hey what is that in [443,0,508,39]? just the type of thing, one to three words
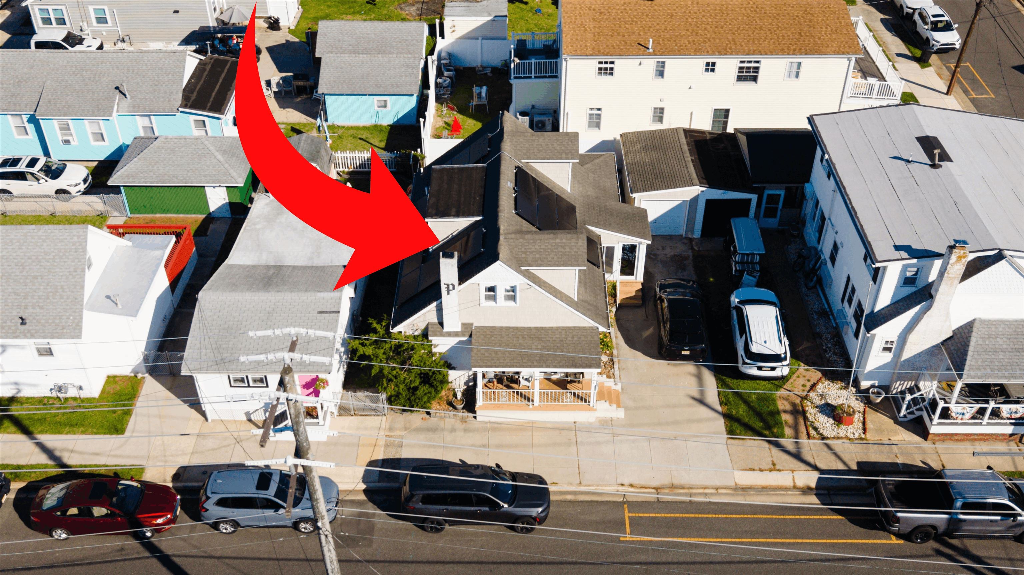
building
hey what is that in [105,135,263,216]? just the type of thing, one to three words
shed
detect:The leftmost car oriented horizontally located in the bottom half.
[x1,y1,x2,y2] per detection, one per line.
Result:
[31,474,185,540]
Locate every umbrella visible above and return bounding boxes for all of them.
[324,105,334,145]
[217,5,257,24]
